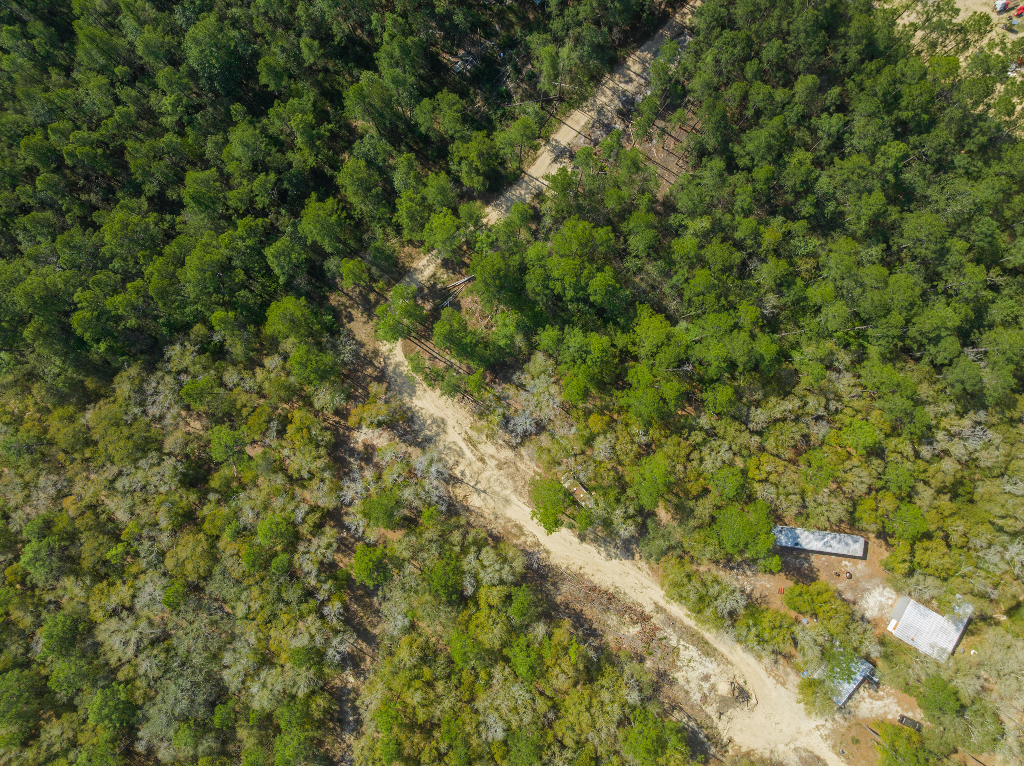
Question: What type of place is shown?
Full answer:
It's a forest.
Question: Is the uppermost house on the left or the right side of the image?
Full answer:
It is on the right.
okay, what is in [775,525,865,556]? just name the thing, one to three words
house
